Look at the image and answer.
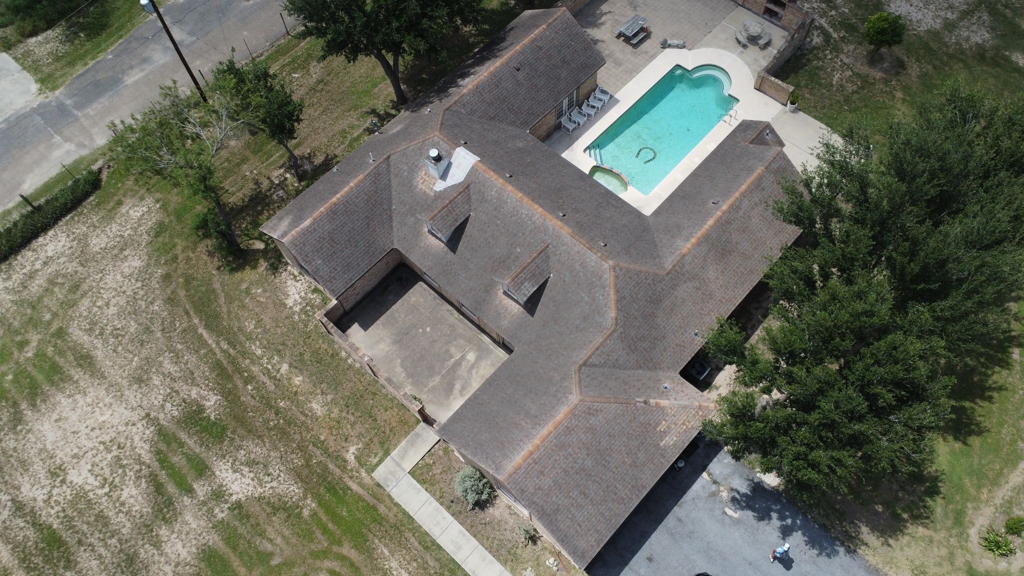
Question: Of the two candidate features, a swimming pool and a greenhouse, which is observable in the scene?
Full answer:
The one in the frame is a swimming pool.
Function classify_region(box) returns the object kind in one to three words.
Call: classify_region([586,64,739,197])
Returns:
swimming pool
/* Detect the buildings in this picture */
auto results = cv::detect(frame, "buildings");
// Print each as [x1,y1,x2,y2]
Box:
[260,6,817,571]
